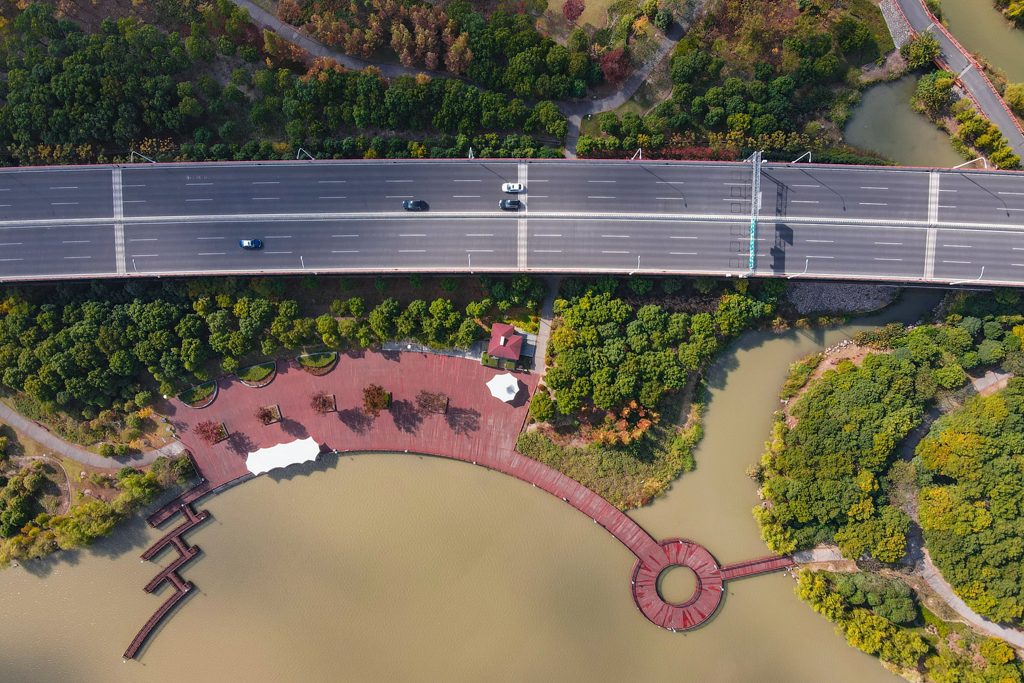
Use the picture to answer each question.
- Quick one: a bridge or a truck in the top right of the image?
bridge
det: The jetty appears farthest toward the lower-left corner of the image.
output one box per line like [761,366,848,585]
[122,482,214,660]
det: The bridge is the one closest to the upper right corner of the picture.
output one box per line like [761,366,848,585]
[918,19,989,91]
